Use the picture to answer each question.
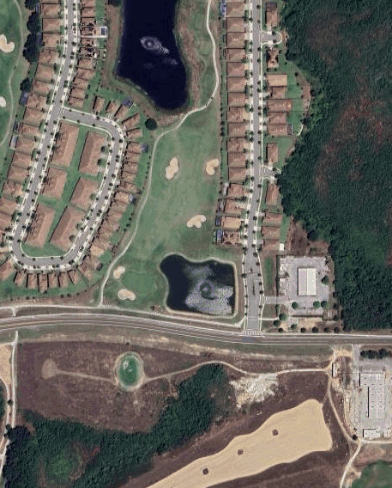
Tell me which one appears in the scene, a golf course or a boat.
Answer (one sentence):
This aerial view contains a golf course.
